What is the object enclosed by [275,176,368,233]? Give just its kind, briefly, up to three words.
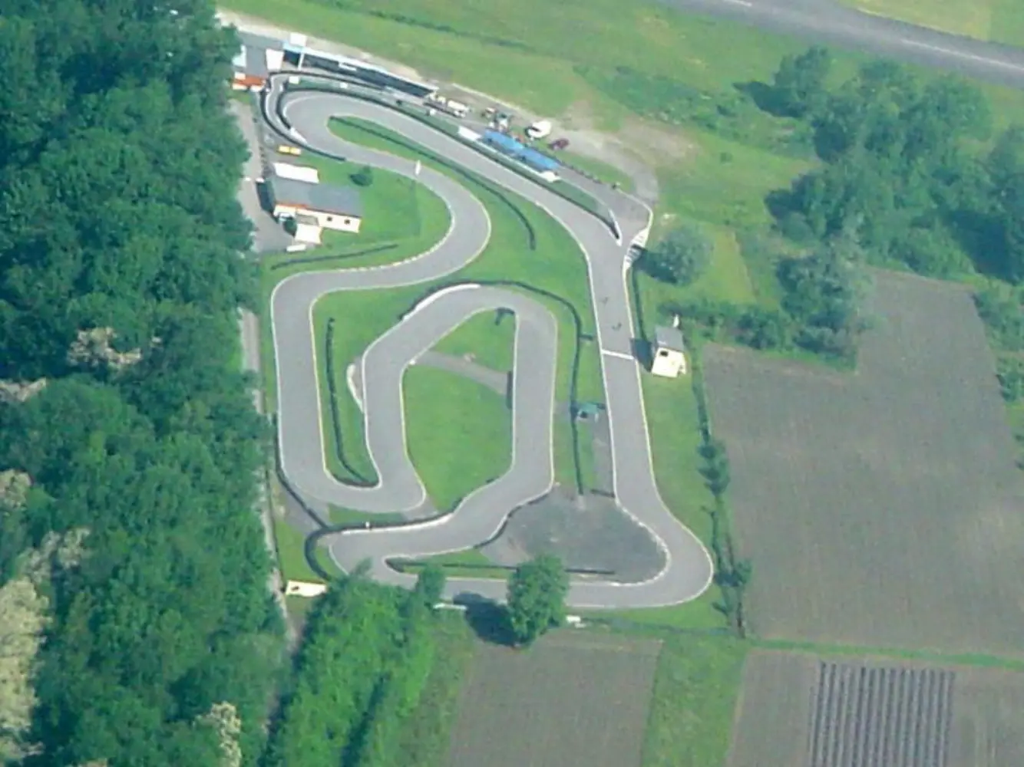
building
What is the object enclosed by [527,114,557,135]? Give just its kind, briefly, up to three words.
vehicle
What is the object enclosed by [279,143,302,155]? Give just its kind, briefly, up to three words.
vehicle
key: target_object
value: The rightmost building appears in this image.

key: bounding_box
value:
[653,327,688,377]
